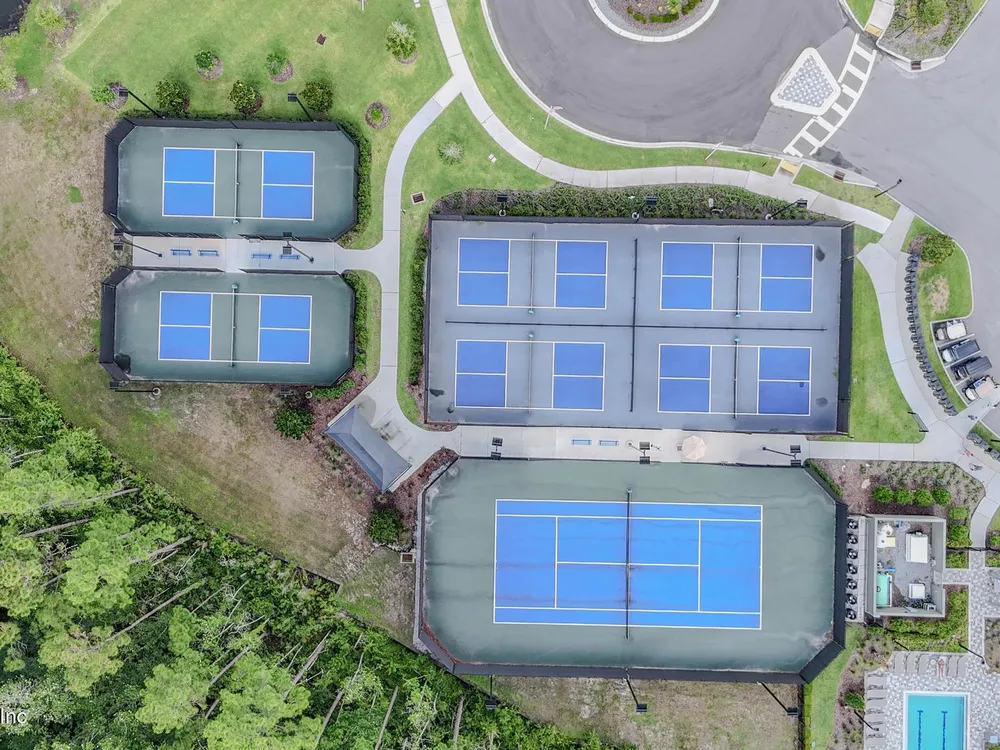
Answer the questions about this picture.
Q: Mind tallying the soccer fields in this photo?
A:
0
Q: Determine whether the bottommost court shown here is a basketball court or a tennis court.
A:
tennis court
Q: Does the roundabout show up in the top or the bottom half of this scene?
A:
top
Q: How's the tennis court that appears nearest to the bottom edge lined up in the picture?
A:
from left to right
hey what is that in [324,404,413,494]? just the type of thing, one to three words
building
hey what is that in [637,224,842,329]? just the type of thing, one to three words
sports court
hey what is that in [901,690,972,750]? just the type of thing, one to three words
swimming pool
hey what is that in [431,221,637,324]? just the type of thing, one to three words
sports court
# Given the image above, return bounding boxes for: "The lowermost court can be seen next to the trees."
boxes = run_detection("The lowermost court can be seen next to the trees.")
[423,462,835,672]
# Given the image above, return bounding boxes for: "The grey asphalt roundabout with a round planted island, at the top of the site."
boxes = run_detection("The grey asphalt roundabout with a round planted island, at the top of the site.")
[489,0,820,140]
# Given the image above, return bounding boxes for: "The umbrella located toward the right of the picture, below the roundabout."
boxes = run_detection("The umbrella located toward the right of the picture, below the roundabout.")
[683,436,707,459]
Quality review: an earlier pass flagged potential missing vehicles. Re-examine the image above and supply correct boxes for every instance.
[961,381,999,404]
[938,343,976,364]
[951,360,989,382]
[931,324,967,342]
